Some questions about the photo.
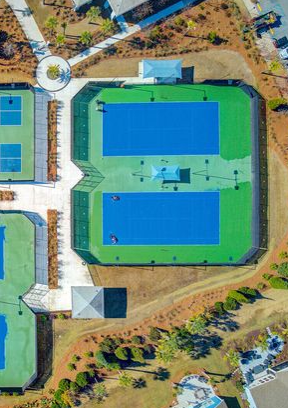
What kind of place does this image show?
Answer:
sports ground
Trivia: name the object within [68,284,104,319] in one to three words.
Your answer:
building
